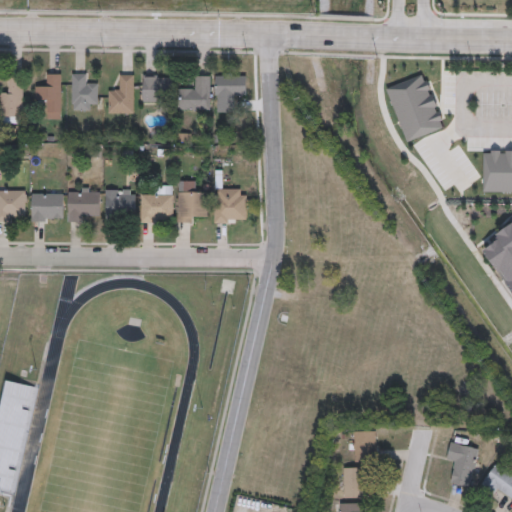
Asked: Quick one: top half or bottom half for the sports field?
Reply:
bottom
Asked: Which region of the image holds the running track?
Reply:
bottom left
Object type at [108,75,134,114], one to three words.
house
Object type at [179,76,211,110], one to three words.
house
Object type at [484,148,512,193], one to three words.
building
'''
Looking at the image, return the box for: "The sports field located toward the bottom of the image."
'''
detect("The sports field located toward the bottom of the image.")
[40,340,173,512]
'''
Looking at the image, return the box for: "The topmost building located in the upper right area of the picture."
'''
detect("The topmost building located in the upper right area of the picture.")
[388,74,443,141]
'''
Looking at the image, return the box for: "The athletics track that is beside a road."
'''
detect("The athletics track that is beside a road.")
[12,276,200,512]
